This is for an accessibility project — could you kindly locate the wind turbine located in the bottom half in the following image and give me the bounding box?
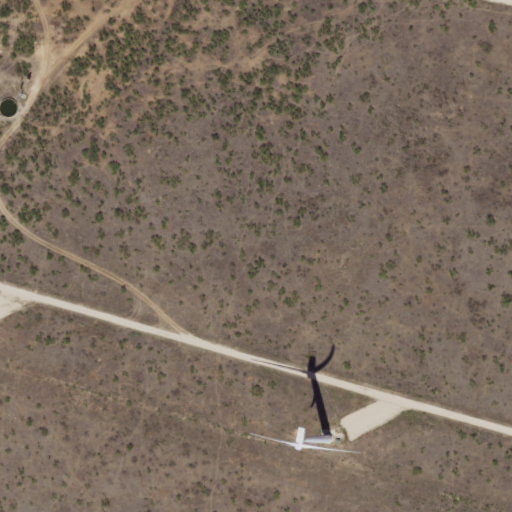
[237,428,344,453]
